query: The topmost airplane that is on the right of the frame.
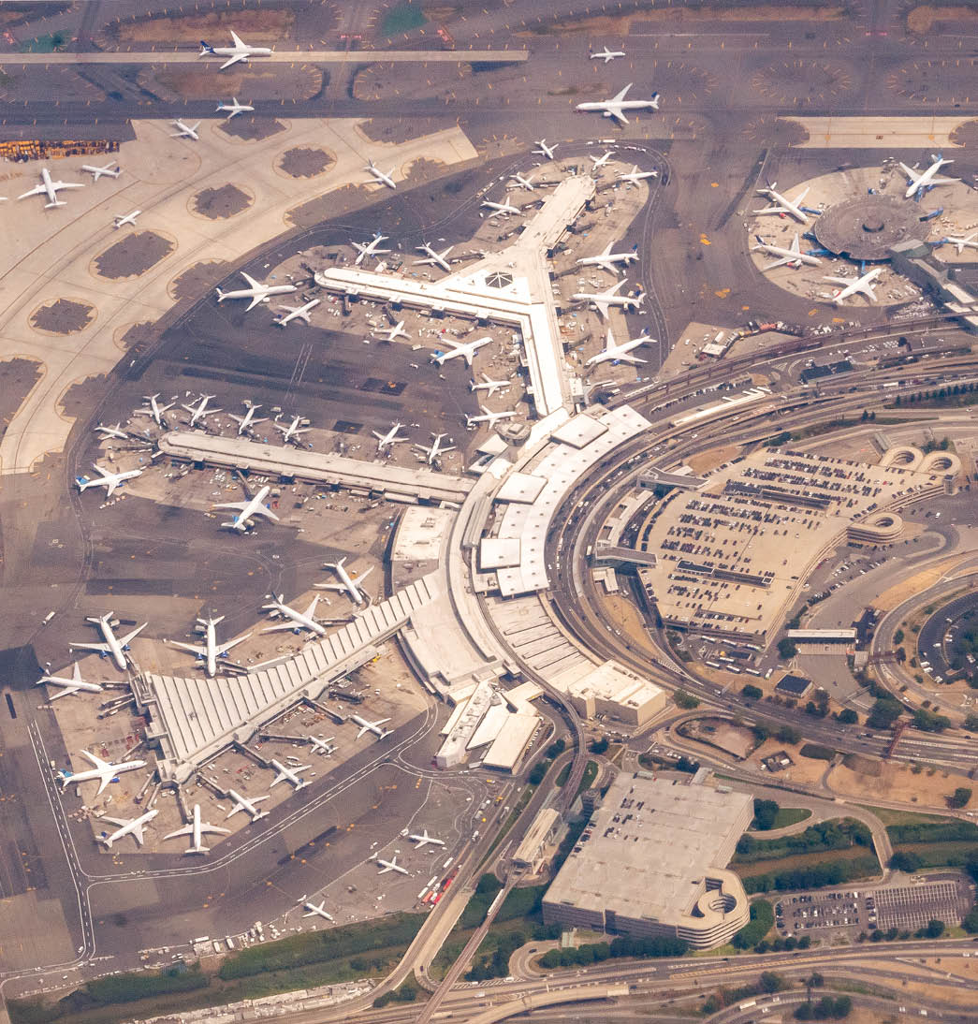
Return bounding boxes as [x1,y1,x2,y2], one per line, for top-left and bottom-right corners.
[588,44,625,64]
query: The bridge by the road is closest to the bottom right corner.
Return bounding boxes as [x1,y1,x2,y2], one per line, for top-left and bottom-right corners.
[863,825,897,877]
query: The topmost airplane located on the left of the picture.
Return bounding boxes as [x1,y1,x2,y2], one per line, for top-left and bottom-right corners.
[201,32,272,69]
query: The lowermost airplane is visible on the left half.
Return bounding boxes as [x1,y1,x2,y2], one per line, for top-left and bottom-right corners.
[303,896,332,920]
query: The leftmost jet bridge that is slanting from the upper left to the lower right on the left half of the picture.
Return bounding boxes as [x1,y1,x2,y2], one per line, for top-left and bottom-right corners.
[122,652,139,673]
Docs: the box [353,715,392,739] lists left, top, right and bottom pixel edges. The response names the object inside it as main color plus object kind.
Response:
white airplane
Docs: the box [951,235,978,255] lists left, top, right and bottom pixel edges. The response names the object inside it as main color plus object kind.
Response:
white airplane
